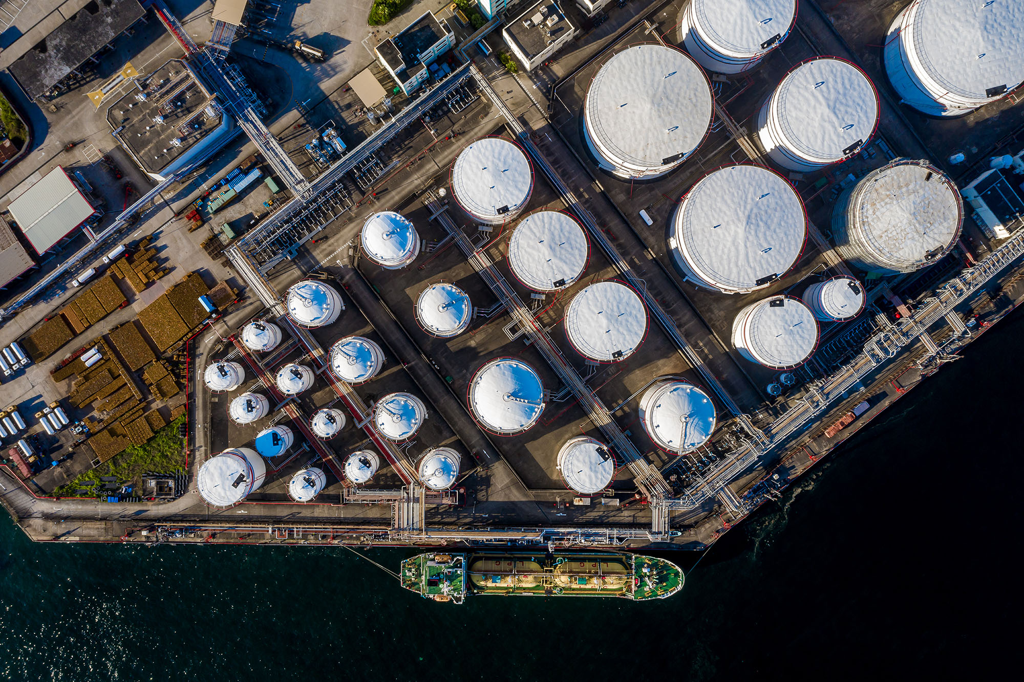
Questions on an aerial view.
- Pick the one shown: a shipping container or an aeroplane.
shipping container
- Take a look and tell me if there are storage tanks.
Yes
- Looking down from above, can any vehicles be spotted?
Yes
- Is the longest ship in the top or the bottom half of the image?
bottom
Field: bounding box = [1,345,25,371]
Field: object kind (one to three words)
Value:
truck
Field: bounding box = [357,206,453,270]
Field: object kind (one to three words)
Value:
storage tank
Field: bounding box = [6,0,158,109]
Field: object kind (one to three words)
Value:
building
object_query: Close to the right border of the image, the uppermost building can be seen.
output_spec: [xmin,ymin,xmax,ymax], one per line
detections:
[961,170,1024,240]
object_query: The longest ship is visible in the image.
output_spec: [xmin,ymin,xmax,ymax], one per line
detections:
[401,550,685,605]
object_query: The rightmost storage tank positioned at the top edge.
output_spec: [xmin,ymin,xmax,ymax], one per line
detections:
[866,0,1024,123]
